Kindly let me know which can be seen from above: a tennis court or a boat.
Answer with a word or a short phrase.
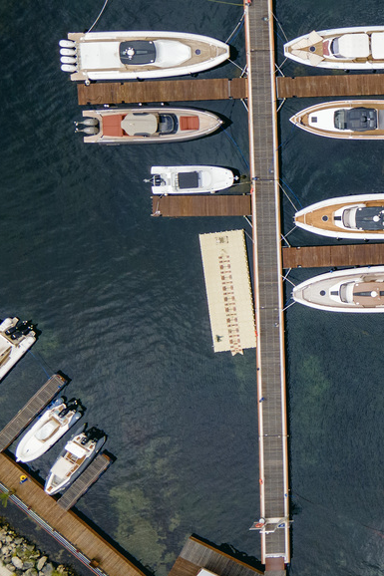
boat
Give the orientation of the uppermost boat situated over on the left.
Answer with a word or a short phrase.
from left to right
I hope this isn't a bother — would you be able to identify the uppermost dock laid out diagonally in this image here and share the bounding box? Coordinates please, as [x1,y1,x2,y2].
[0,374,70,450]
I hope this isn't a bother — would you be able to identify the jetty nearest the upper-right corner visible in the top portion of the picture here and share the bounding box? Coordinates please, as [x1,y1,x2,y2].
[277,74,384,98]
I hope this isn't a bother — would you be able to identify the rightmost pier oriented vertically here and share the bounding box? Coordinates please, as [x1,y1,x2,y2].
[244,0,292,571]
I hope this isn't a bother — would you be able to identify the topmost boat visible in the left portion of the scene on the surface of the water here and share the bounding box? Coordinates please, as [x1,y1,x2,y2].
[60,32,232,81]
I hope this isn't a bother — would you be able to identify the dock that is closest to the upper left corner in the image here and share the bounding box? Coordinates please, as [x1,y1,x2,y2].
[77,78,247,105]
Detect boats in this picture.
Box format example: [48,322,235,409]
[16,401,82,464]
[60,32,232,81]
[294,193,384,240]
[75,107,224,143]
[44,426,105,495]
[292,264,384,312]
[288,100,384,139]
[145,166,240,194]
[283,27,384,70]
[0,317,37,386]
